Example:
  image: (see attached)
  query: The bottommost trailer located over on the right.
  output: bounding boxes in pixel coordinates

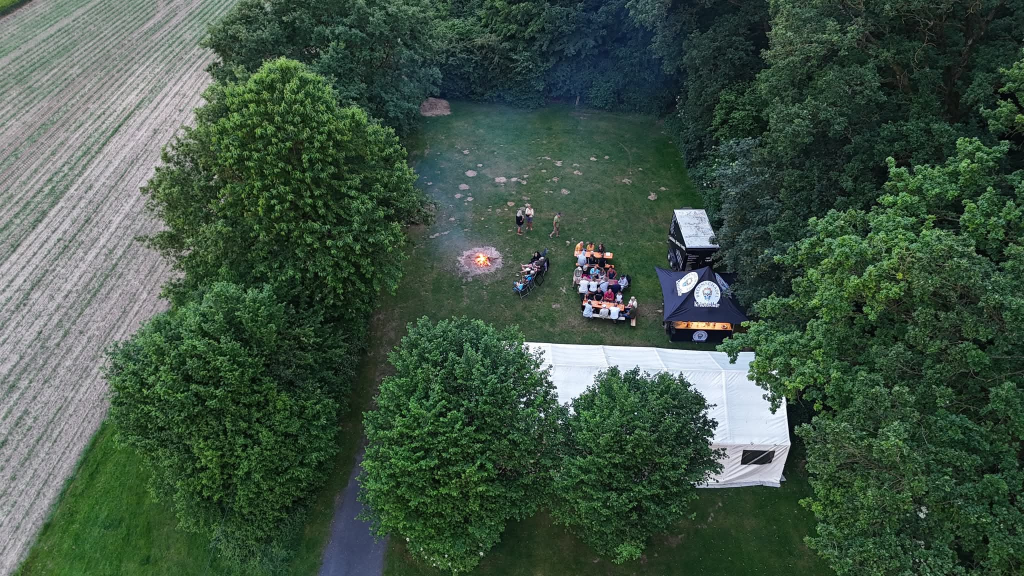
[669,211,720,273]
